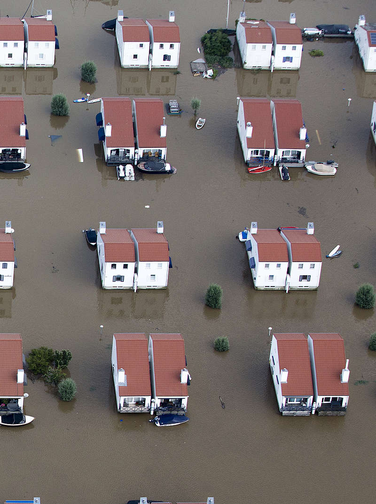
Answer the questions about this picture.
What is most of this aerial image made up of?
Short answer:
water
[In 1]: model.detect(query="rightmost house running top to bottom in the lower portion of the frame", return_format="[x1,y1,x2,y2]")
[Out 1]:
[308,334,351,415]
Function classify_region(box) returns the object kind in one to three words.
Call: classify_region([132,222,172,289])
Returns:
house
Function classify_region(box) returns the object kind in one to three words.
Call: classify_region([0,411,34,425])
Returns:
boat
